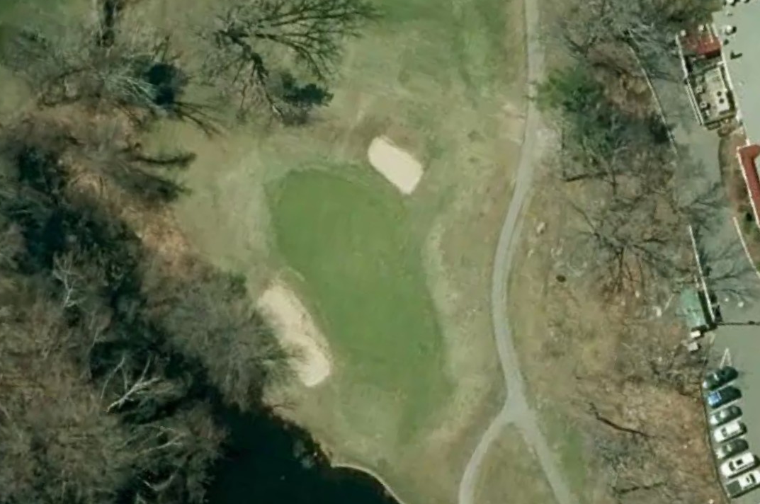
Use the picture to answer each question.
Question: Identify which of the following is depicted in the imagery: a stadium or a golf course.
golf course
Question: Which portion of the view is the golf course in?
center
